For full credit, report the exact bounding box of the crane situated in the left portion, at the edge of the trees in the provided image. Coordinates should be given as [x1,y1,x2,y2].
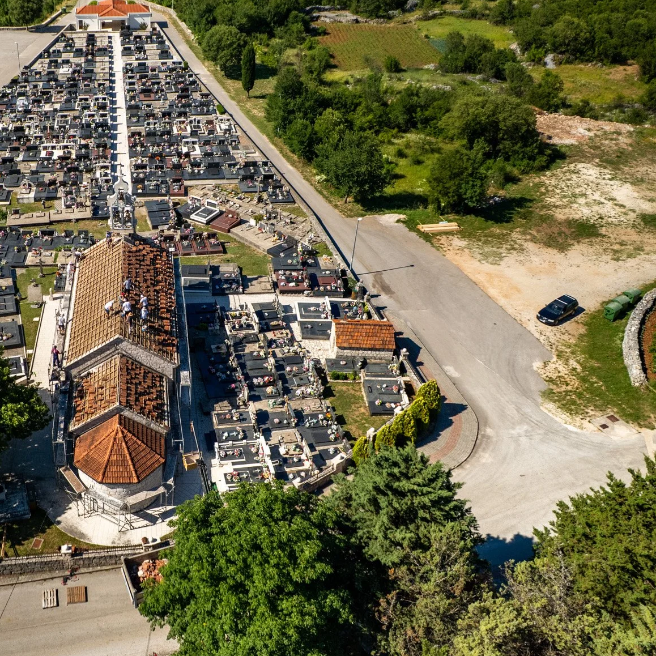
[190,419,221,499]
